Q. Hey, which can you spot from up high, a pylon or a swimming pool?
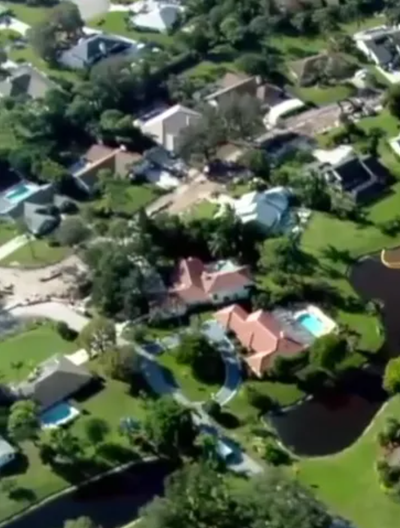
swimming pool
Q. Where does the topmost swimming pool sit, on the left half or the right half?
left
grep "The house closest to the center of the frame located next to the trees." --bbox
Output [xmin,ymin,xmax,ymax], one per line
[165,258,259,314]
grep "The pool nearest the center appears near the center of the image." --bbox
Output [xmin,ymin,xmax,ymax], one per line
[207,259,238,276]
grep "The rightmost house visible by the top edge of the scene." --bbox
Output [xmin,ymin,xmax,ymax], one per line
[353,23,400,75]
